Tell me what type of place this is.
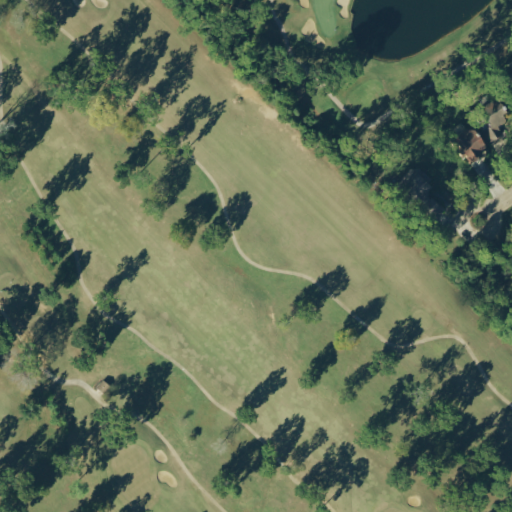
golf course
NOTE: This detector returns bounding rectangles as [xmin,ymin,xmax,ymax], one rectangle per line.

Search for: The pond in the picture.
[353,0,505,60]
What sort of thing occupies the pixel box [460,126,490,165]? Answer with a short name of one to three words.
house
